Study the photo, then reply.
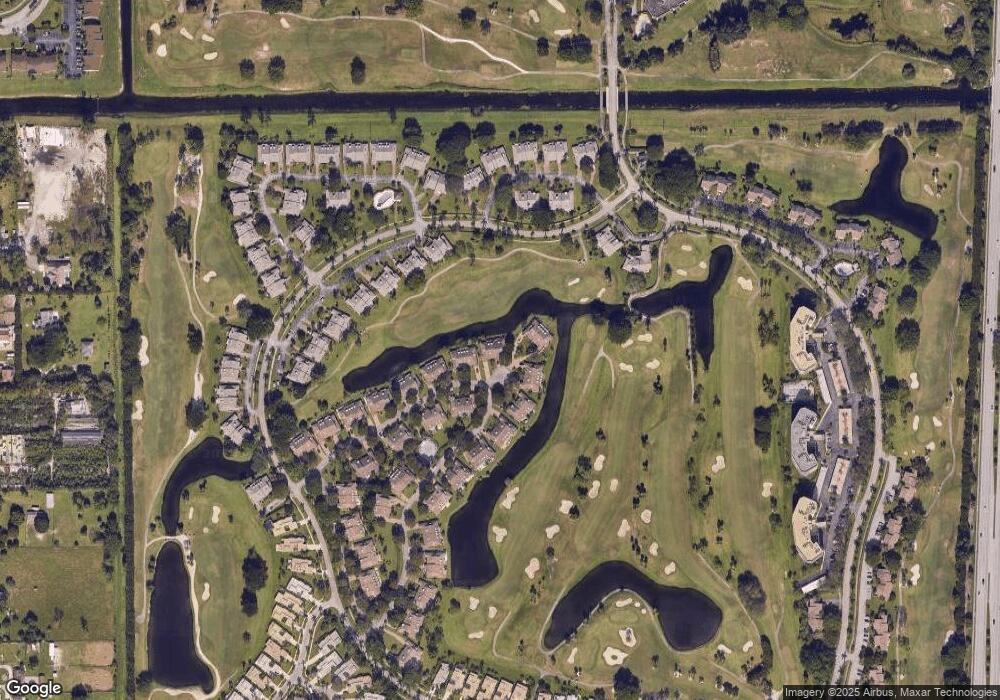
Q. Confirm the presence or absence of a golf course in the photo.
Yes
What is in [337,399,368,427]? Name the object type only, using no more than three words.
house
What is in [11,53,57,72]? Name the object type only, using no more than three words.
building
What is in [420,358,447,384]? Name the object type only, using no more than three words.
house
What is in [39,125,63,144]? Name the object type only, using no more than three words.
building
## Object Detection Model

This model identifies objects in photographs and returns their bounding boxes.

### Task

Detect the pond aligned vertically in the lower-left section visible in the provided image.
[148,540,215,694]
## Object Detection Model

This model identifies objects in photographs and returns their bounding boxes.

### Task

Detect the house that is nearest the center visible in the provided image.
[479,337,504,359]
